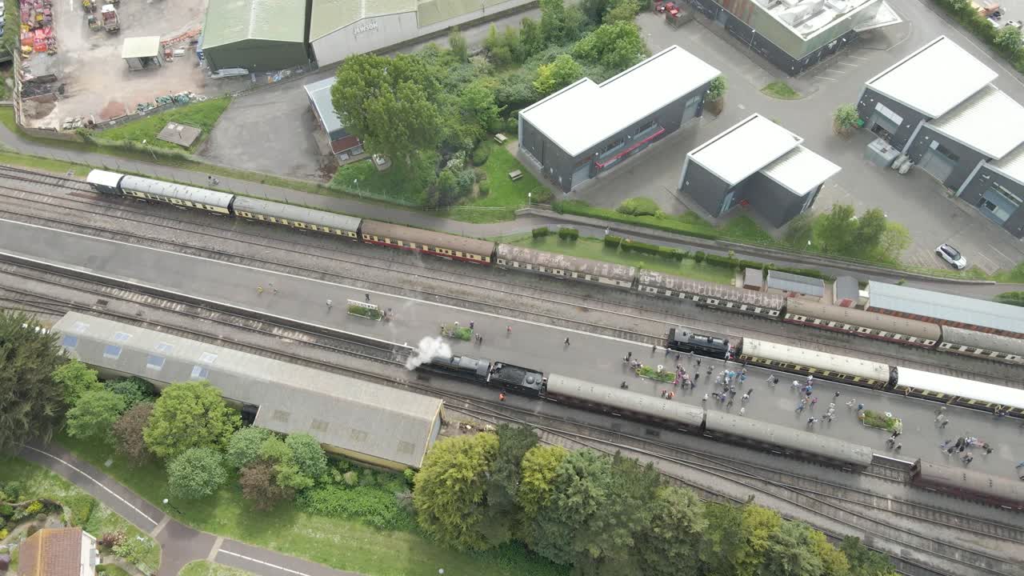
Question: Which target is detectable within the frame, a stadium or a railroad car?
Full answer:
This aerial view contains a railroad car.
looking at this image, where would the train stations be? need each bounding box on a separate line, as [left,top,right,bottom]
[0,219,1024,480]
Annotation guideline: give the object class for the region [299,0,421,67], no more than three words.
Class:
building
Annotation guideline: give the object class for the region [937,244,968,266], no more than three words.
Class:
car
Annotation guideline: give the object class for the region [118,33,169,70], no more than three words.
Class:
shed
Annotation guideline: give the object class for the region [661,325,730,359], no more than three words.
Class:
rail car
